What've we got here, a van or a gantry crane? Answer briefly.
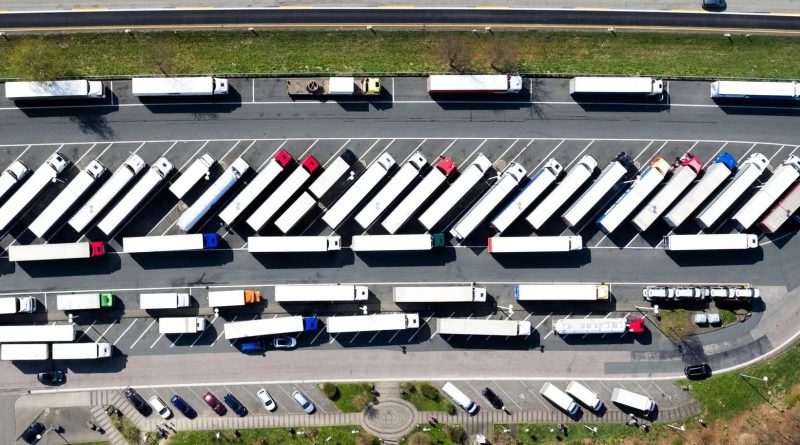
van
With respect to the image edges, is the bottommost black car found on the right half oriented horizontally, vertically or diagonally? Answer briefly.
diagonally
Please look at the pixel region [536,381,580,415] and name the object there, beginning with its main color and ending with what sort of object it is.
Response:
white van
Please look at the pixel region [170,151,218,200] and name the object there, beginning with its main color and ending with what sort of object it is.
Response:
white truck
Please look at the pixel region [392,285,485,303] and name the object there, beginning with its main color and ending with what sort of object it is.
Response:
white vehicle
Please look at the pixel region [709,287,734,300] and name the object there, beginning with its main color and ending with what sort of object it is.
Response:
white vehicle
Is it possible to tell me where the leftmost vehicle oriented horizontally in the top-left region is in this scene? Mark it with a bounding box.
[5,80,104,101]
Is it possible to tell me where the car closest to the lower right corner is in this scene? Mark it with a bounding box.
[684,365,712,377]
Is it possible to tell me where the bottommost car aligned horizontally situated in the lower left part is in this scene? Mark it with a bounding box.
[39,372,66,384]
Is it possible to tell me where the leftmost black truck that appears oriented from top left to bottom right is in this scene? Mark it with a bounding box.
[124,387,153,418]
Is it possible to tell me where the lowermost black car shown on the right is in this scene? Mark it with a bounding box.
[482,387,505,410]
